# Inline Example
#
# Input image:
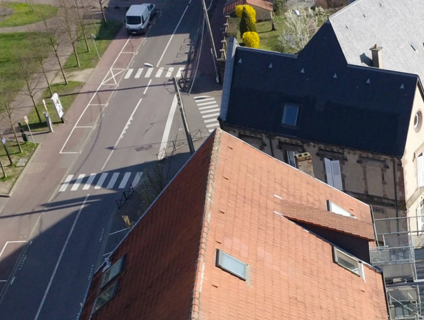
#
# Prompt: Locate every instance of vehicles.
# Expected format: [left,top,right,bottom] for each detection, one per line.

[144,1,159,17]
[124,3,149,32]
